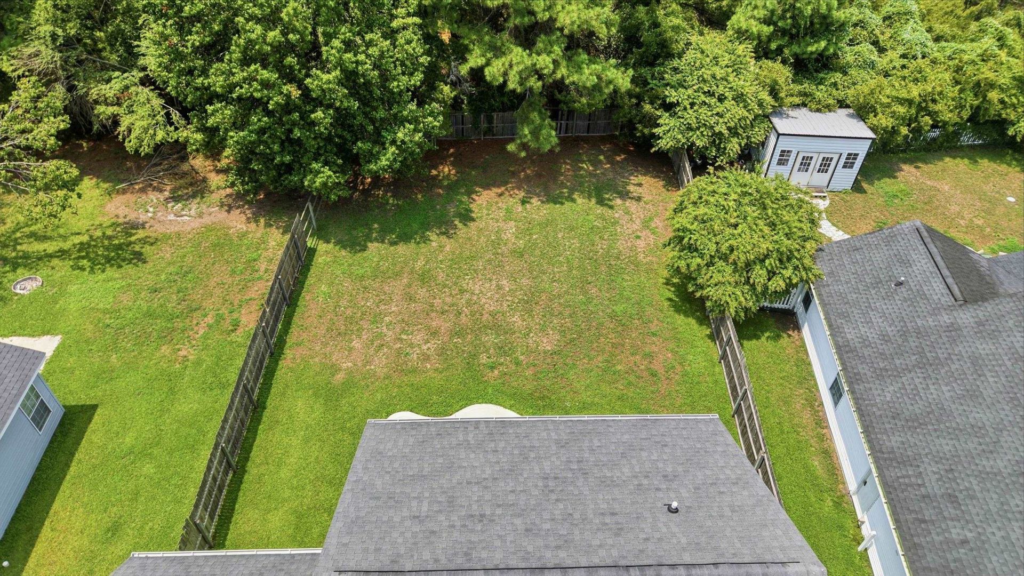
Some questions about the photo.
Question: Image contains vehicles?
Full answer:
No, the frame has no vehicle in it.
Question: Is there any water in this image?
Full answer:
No, there's no water in this view.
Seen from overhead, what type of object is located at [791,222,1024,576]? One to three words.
house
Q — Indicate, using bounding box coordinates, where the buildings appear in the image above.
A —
[116,412,822,576]
[791,222,1024,576]
[0,343,65,537]
[764,104,875,189]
